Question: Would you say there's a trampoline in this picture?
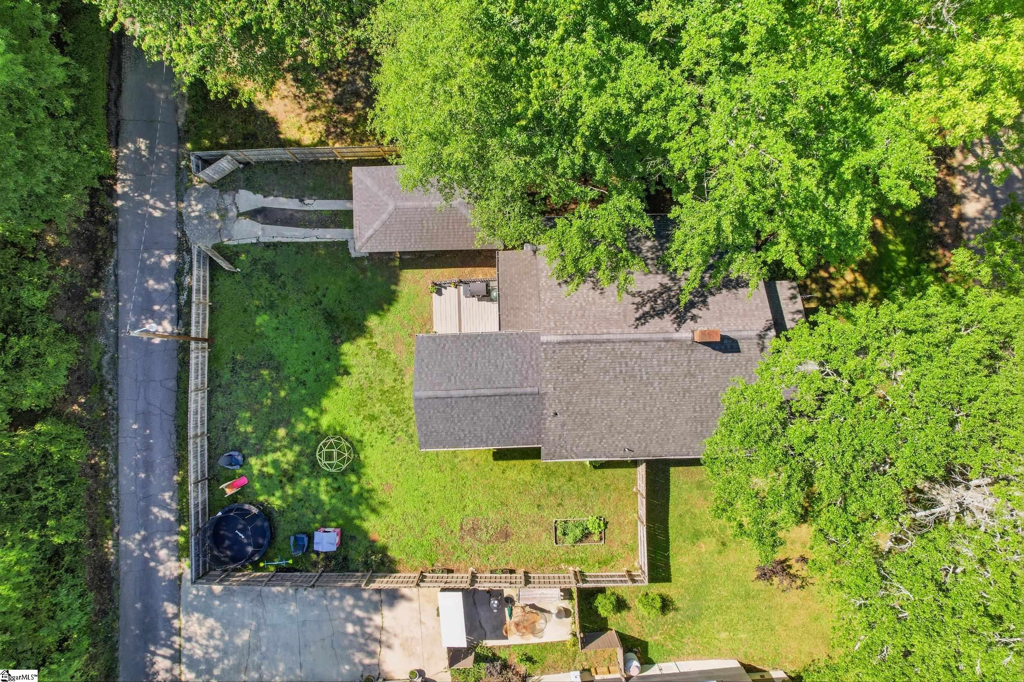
Yes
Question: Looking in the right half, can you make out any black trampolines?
No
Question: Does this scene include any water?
No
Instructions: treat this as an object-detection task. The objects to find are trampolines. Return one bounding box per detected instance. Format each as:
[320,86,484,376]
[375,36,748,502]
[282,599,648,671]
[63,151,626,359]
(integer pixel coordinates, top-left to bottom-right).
[202,501,273,571]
